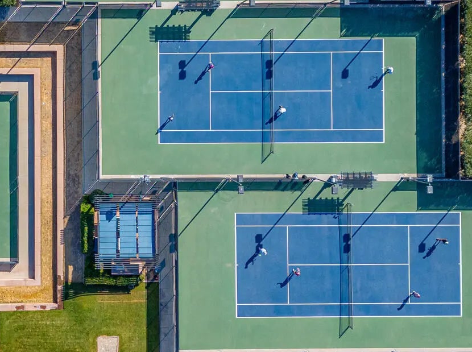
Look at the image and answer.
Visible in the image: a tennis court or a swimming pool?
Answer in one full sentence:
Visible in the photo is a tennis court.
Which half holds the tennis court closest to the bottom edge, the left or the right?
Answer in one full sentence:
The tennis court closest to the bottom edge appears in the right half of the scene.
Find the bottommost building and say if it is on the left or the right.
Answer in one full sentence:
You can find the bottommost building on the left side of the picture.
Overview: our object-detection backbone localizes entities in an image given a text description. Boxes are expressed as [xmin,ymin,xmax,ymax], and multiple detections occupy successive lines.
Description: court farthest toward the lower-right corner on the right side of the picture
[175,179,472,352]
